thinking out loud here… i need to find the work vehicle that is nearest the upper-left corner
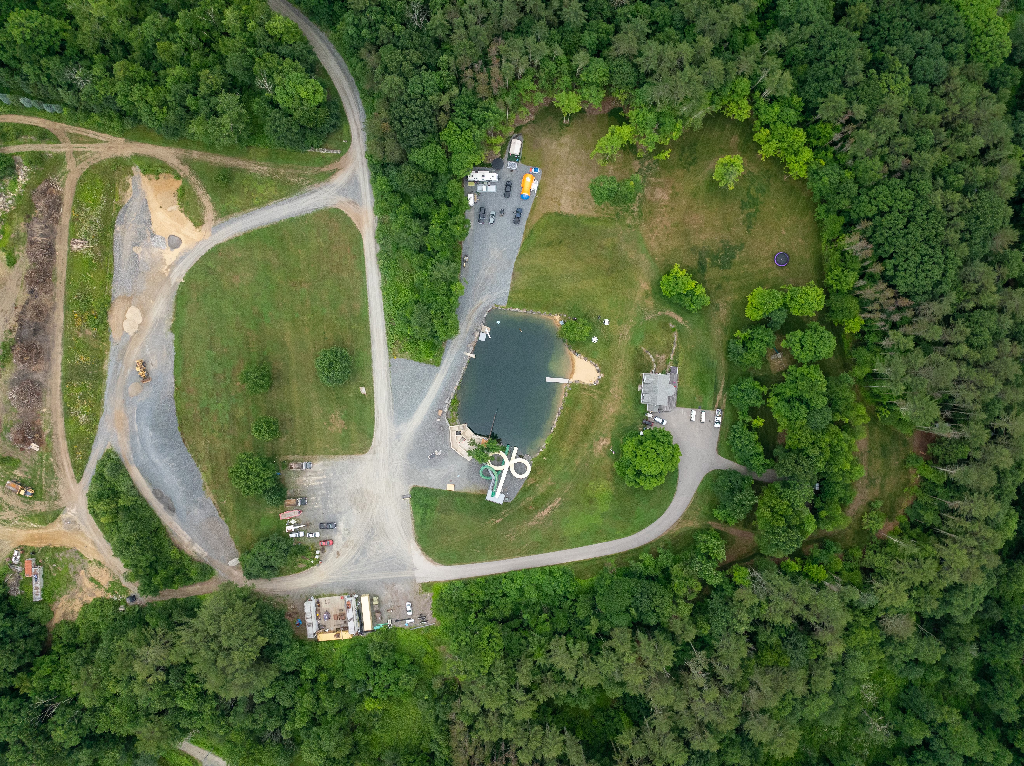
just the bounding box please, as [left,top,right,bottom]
[135,358,152,382]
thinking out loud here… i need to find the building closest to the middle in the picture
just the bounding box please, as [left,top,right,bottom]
[640,373,679,412]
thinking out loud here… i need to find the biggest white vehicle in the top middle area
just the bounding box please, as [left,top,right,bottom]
[468,170,501,182]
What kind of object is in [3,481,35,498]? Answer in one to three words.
vehicle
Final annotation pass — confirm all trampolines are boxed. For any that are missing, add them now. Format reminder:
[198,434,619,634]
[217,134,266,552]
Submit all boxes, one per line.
[491,158,504,170]
[774,252,789,266]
